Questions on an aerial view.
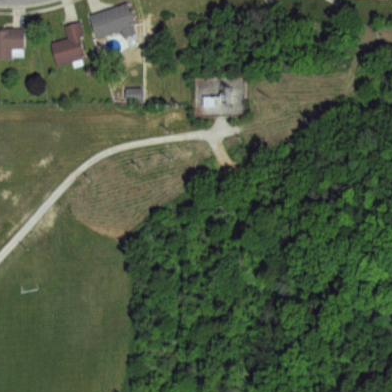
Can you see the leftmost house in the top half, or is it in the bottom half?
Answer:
top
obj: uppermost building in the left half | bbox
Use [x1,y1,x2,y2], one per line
[90,2,134,38]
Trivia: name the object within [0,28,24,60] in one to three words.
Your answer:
house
